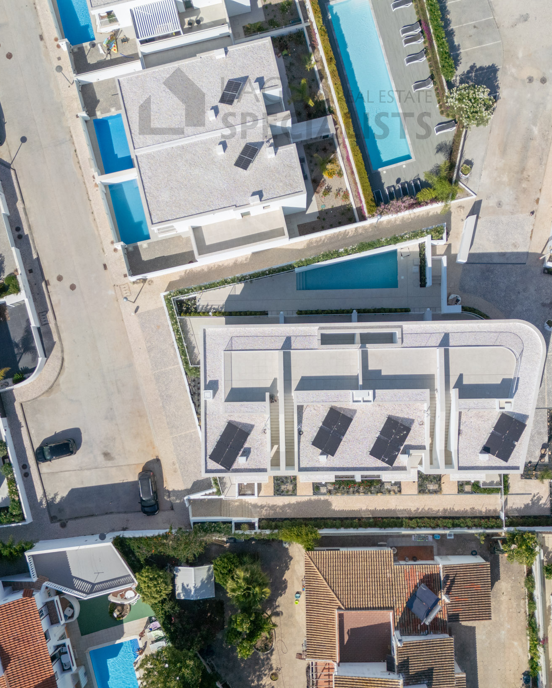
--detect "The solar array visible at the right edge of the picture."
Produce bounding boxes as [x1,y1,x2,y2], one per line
[479,412,526,462]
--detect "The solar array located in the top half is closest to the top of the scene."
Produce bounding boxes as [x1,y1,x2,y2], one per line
[220,79,243,108]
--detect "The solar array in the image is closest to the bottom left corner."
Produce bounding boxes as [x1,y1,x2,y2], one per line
[206,421,249,469]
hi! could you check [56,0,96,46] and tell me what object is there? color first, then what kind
blue swimming pool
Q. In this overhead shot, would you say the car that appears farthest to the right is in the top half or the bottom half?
bottom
